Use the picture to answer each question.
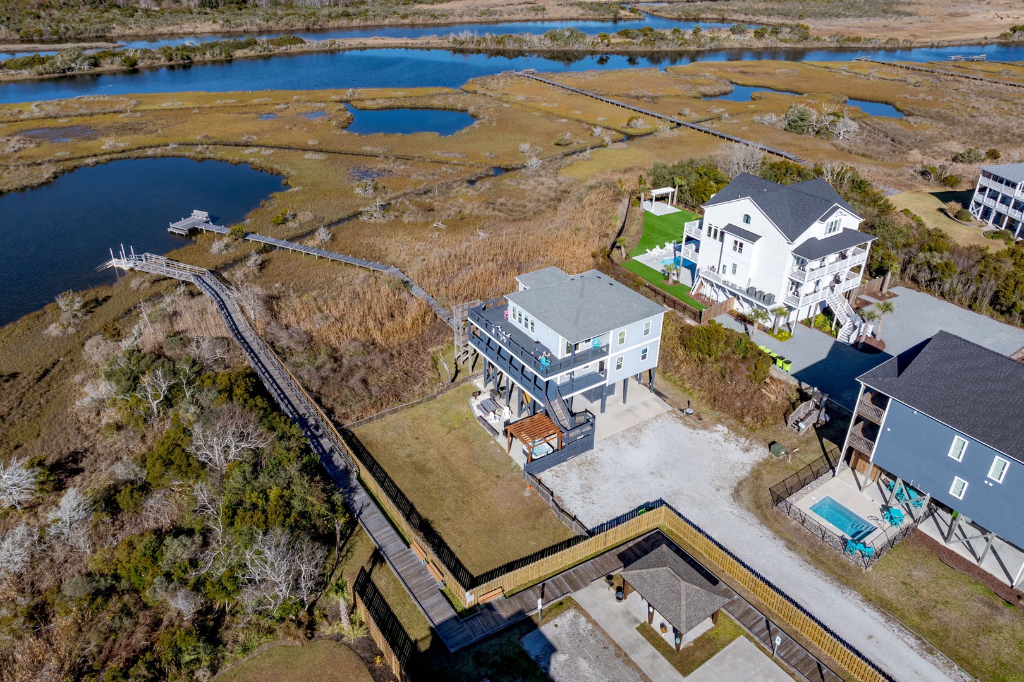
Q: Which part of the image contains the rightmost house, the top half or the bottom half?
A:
top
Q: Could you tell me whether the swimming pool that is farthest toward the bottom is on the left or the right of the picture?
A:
right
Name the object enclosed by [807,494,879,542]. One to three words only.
swimming pool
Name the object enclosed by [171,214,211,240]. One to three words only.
pier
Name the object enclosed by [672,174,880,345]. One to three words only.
house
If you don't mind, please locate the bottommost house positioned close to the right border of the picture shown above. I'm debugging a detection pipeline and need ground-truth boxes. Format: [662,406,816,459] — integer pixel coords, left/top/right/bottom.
[835,331,1024,589]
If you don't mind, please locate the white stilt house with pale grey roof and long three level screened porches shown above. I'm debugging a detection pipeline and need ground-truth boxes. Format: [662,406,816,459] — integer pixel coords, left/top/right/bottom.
[969,164,1024,237]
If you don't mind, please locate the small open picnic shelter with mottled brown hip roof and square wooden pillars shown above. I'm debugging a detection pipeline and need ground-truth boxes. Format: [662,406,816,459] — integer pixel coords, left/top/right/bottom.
[618,544,730,654]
